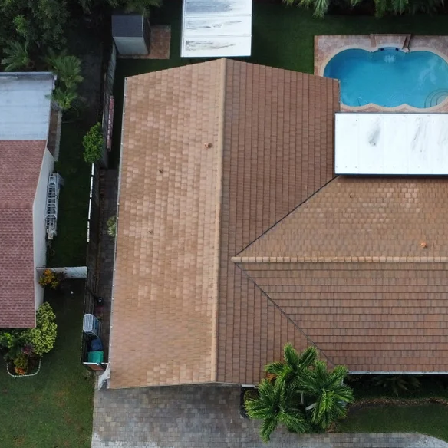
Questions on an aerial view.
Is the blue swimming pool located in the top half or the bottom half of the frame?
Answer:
top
